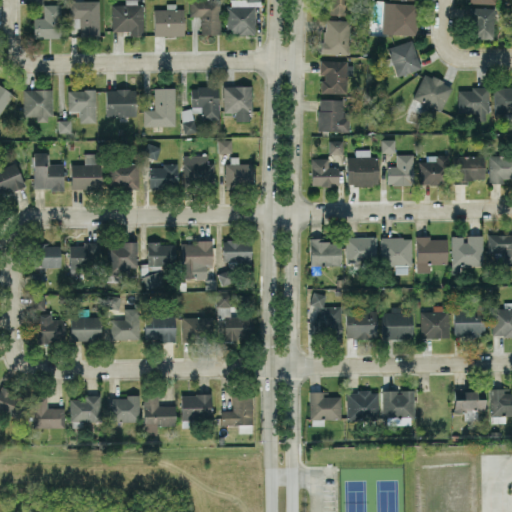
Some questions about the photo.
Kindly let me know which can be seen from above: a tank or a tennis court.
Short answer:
tennis court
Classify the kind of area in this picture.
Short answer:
residential area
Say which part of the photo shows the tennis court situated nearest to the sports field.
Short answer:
bottom right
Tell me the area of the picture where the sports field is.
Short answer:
bottom right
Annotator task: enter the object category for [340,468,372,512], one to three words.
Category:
tennis court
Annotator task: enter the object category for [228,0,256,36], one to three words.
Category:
house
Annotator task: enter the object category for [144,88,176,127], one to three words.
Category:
house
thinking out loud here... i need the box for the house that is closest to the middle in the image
[224,243,252,264]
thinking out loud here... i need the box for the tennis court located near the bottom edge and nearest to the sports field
[372,468,404,512]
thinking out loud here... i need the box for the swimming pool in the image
[370,2,384,36]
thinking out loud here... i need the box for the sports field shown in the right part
[416,451,477,512]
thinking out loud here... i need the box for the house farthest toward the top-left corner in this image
[34,4,60,38]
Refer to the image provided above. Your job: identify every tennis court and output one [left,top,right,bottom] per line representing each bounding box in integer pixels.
[372,468,404,512]
[340,468,372,512]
